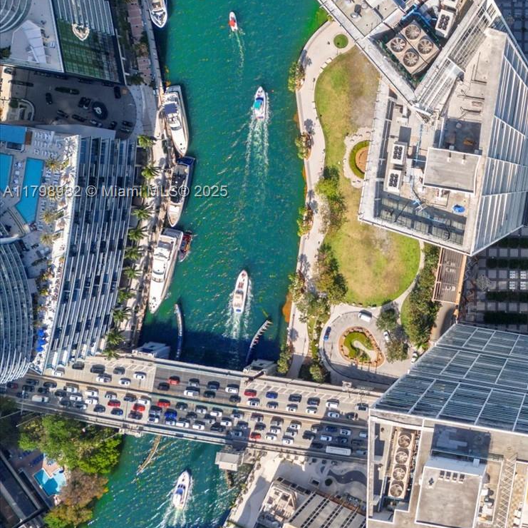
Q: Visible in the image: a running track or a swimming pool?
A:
swimming pool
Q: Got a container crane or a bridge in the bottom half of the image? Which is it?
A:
bridge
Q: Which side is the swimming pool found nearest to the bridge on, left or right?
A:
left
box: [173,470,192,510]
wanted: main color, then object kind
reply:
white boat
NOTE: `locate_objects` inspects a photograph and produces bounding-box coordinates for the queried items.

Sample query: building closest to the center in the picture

[242,354,280,377]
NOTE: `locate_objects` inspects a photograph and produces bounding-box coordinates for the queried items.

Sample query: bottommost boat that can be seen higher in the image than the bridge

[233,271,248,314]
